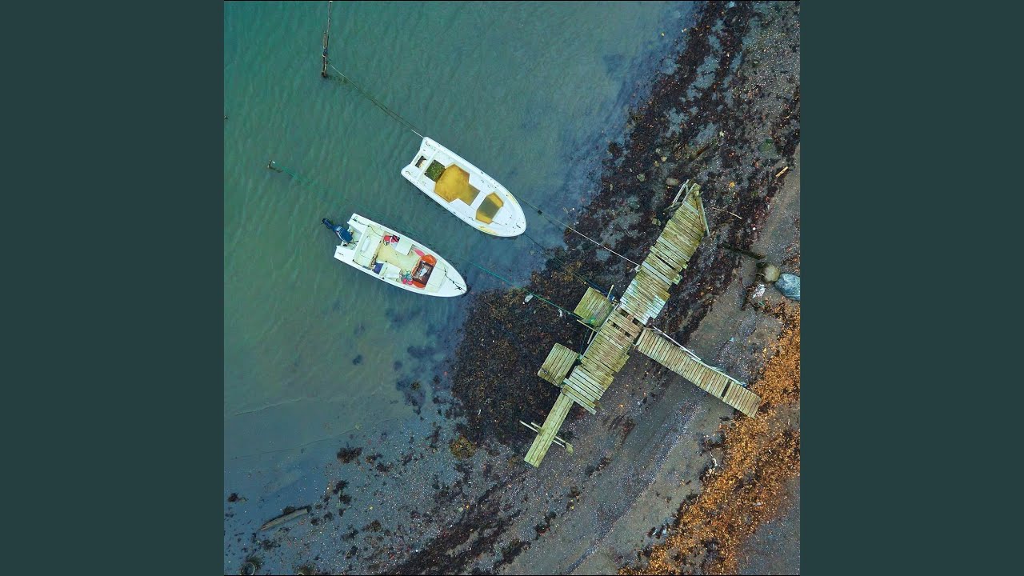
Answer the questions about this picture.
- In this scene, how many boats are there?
2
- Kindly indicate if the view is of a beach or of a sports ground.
beach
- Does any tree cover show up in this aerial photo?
No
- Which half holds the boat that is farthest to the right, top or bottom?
top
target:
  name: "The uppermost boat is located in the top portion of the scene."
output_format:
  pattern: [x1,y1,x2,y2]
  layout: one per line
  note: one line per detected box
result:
[404,139,528,234]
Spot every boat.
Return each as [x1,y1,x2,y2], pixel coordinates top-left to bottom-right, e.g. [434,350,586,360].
[323,214,467,296]
[404,139,528,234]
